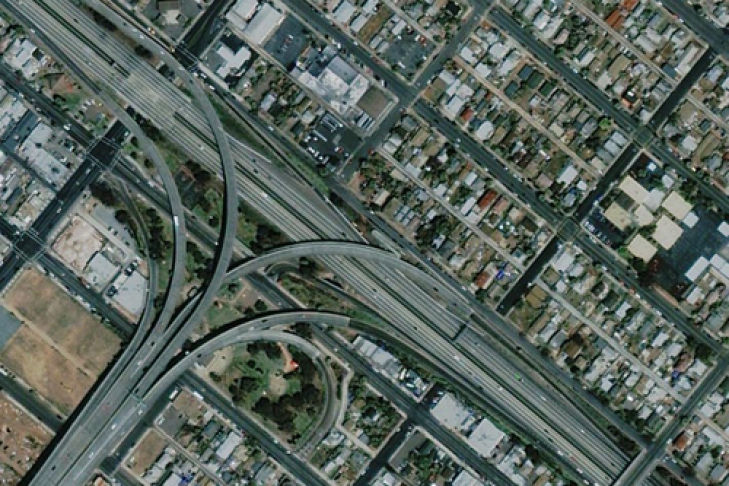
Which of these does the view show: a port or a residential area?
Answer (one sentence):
The picture captures a residential area.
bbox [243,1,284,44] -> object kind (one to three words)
building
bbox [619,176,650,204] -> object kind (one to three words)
building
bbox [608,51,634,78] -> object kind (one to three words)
house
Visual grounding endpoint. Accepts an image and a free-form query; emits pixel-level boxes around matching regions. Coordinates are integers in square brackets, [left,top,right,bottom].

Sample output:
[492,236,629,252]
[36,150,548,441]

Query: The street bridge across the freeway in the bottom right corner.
[609,416,687,486]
